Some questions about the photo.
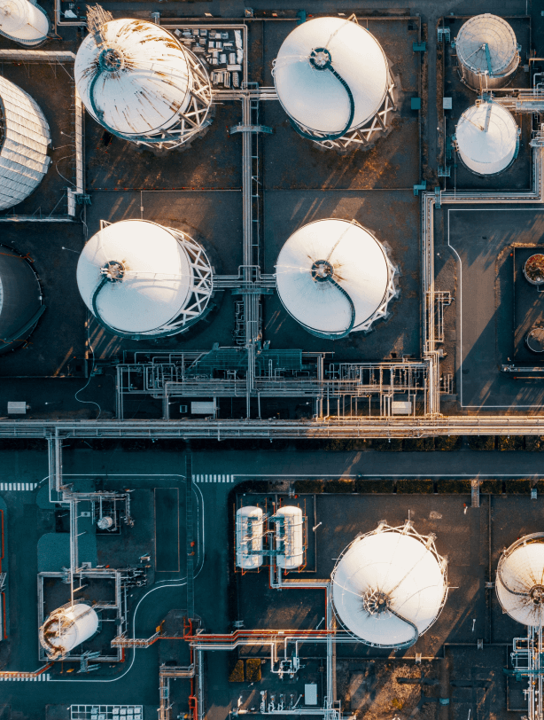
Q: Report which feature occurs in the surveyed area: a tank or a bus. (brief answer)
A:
tank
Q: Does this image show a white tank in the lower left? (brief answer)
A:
Yes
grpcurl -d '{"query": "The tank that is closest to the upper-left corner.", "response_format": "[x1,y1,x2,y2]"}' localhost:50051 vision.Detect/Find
[0,0,53,51]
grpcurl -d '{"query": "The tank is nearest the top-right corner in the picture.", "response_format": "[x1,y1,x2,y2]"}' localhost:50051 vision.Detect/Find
[455,12,520,92]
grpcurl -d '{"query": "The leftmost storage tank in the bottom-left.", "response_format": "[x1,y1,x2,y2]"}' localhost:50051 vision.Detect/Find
[33,602,101,658]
